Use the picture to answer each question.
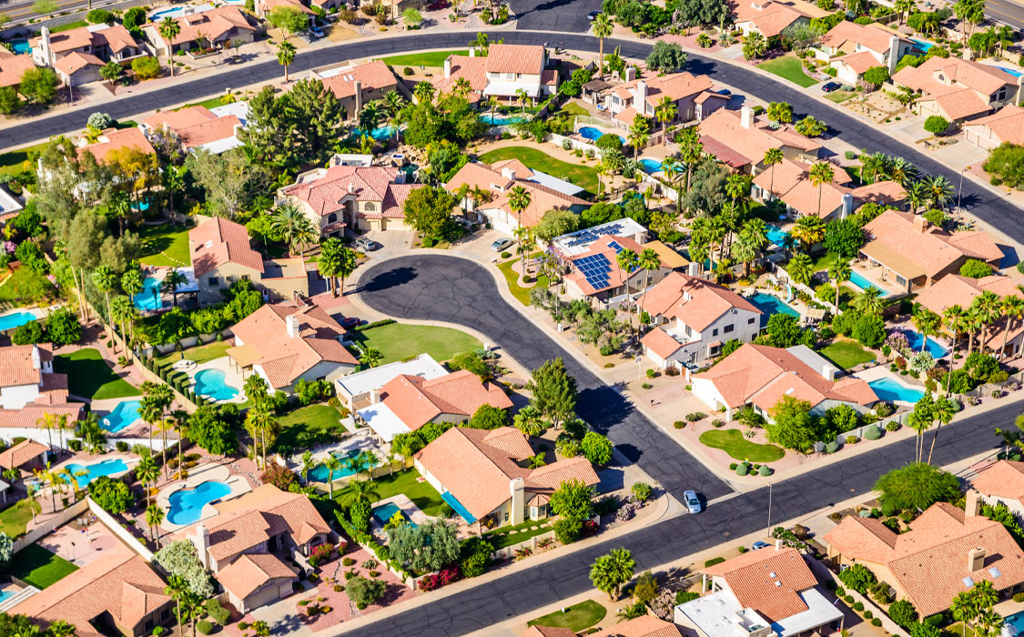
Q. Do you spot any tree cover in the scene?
Yes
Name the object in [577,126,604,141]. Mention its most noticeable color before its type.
blue swimming pool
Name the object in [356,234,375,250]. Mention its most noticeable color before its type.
gray car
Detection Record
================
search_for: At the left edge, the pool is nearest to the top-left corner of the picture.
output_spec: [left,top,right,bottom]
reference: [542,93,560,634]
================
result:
[11,39,33,56]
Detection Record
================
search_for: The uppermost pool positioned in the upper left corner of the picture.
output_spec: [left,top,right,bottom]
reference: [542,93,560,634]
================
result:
[149,7,185,20]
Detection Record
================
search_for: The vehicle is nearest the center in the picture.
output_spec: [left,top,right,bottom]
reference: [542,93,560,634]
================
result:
[491,237,511,249]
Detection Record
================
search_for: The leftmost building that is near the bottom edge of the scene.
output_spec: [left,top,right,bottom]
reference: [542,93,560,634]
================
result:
[0,552,170,637]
